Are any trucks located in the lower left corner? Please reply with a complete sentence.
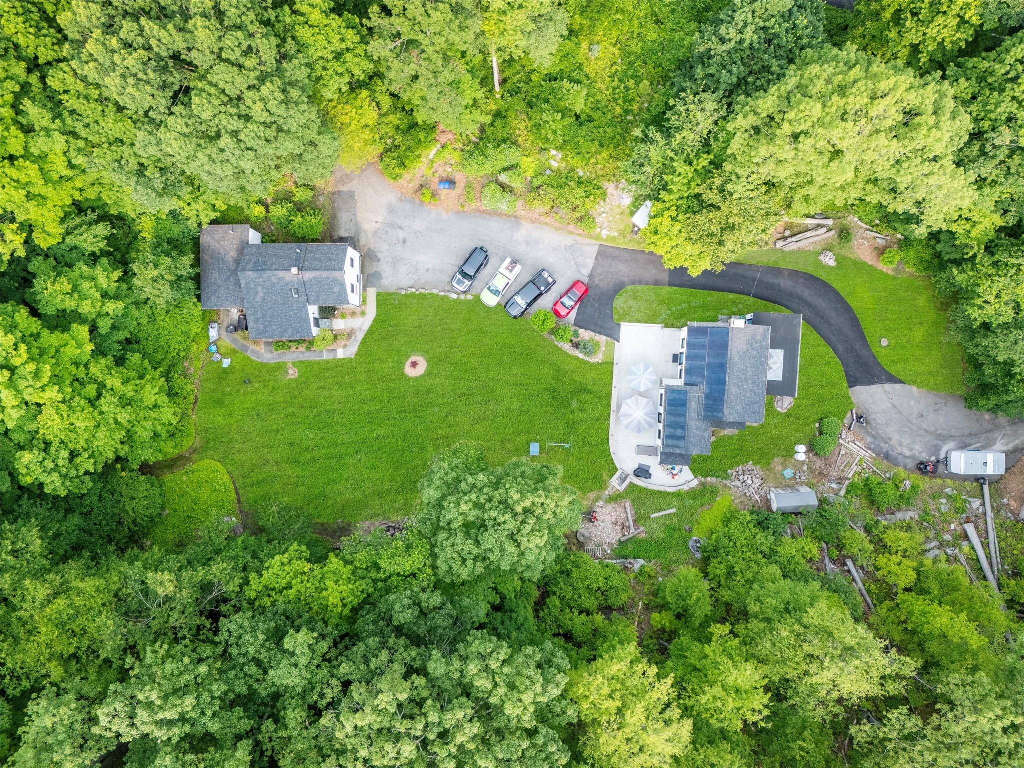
No, there's no truck to be seen in the lower left corner.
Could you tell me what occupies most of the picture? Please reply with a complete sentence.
The largest share of the image is taken up by trees.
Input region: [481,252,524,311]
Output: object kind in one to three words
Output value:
truck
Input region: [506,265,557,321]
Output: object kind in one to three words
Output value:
truck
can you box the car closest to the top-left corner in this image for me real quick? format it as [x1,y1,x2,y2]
[455,247,488,291]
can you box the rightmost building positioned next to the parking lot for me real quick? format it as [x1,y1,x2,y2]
[656,311,803,466]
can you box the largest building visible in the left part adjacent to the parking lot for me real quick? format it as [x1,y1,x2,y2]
[195,224,362,340]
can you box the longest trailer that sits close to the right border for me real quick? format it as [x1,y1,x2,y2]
[939,451,1005,475]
